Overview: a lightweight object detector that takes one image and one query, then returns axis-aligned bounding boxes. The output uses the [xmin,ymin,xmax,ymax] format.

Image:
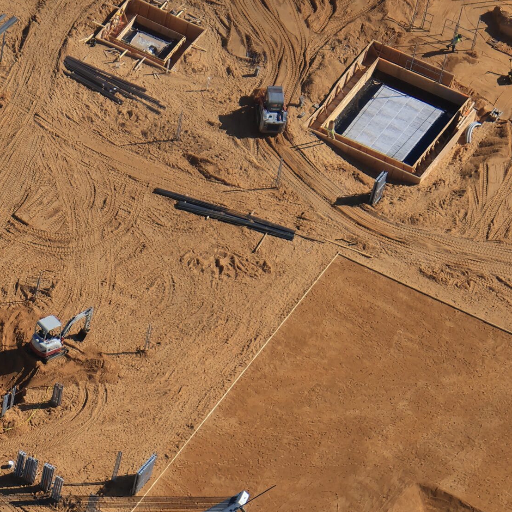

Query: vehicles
[25,304,96,372]
[255,80,291,133]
